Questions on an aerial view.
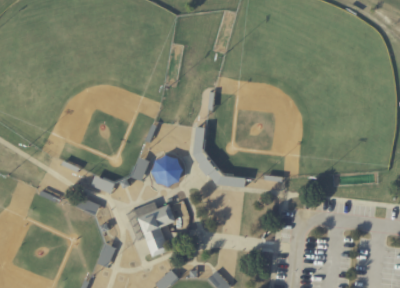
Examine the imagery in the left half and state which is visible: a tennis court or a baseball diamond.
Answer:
baseball diamond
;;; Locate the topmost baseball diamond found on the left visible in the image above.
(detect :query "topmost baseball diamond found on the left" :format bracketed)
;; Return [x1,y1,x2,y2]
[0,0,176,180]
